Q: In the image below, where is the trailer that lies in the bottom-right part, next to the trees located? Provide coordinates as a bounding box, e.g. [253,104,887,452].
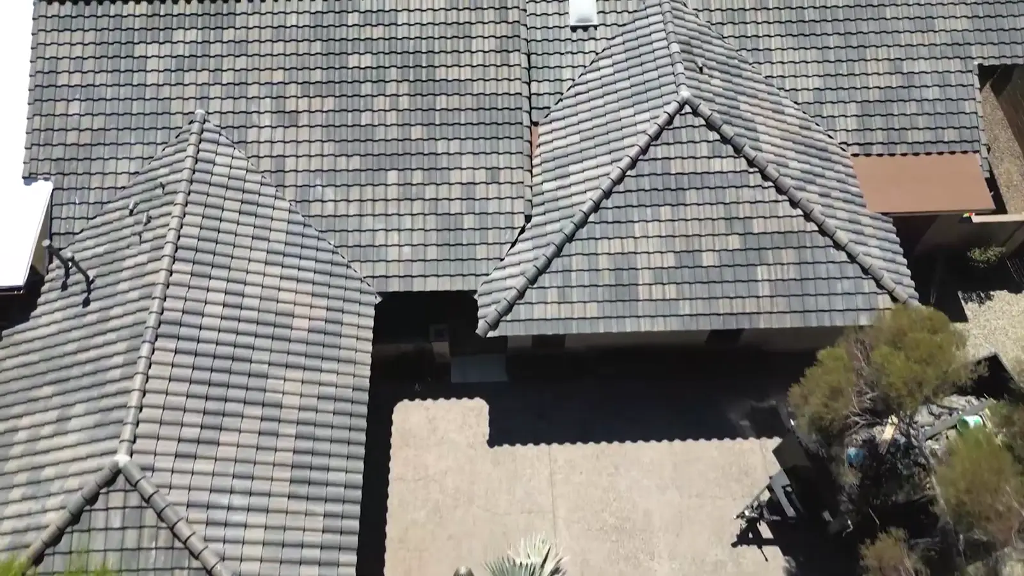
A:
[732,424,865,524]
